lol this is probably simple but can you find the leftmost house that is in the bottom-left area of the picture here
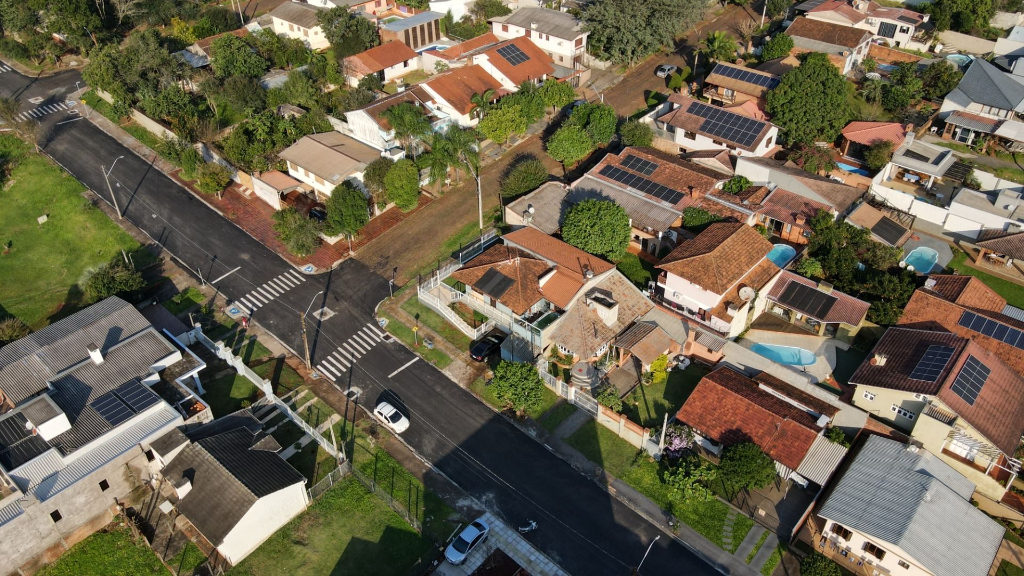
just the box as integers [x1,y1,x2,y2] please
[0,296,216,576]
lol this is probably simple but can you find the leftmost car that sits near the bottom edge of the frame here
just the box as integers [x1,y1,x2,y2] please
[440,513,494,570]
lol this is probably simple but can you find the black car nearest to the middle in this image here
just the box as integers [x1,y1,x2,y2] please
[466,333,506,364]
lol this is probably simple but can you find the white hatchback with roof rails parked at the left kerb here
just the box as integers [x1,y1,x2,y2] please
[367,397,411,436]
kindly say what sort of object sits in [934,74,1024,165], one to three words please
house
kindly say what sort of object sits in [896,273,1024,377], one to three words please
house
